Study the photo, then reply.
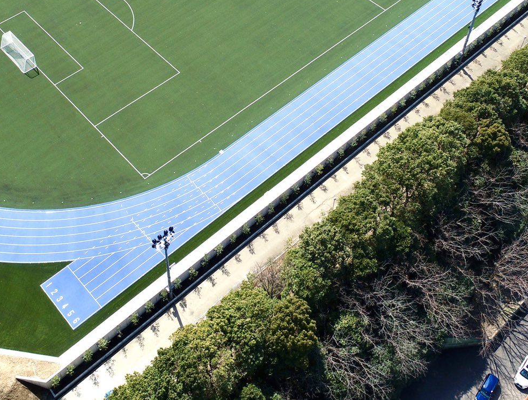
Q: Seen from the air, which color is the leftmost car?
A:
blue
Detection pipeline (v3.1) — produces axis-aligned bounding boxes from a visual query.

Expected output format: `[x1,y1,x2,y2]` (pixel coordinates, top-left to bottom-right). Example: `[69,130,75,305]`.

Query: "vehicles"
[475,371,499,400]
[514,353,528,390]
